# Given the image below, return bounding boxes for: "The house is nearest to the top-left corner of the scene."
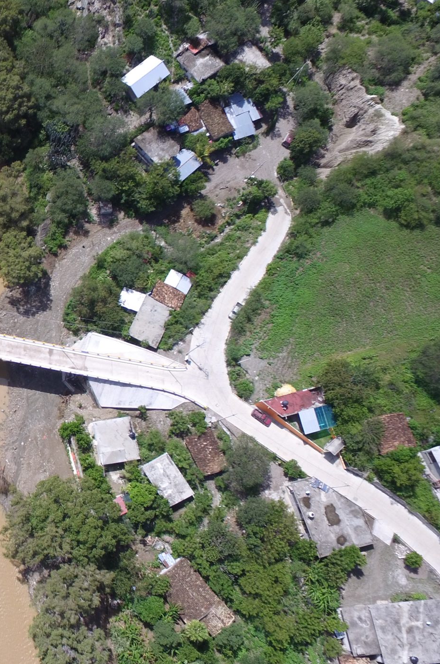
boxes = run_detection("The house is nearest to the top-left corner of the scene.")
[119,56,169,107]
